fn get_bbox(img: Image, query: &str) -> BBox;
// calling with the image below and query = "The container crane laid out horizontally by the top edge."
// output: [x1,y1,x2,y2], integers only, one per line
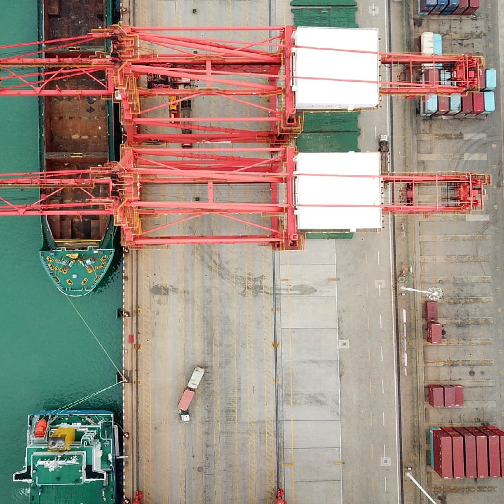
[0,21,489,154]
